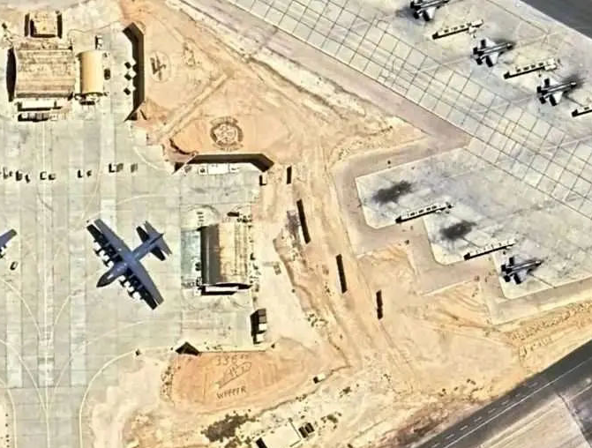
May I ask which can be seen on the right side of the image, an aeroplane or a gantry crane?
aeroplane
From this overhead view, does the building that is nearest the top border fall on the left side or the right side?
left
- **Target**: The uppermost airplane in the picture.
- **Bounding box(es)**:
[408,0,449,21]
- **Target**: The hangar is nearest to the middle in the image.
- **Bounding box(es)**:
[200,222,246,288]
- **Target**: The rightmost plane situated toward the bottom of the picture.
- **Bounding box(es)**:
[500,256,540,283]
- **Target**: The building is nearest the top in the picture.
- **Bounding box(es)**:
[34,11,58,37]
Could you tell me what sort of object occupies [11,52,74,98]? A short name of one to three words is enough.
hangar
